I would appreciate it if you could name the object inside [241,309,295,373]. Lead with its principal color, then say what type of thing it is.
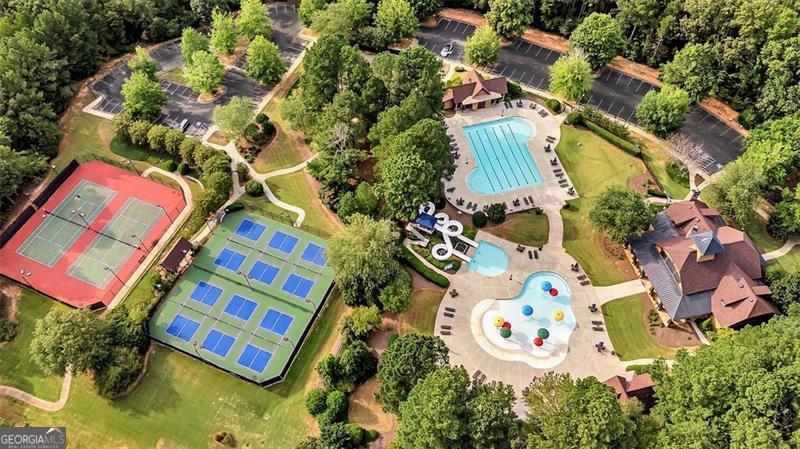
blue sports court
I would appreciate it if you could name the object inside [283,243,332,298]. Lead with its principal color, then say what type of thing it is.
blue sports court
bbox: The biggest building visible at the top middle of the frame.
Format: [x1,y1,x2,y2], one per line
[439,71,508,112]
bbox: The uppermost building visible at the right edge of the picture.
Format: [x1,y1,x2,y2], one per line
[622,181,777,333]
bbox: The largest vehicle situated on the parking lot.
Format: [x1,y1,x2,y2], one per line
[177,117,190,130]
